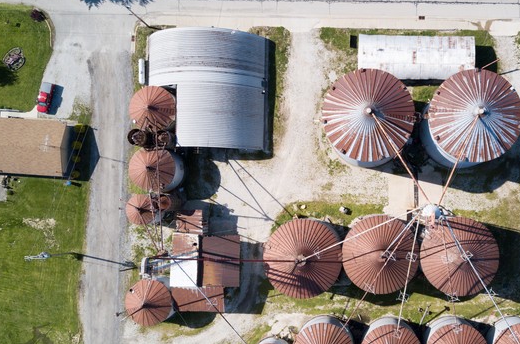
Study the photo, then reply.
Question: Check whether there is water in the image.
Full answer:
No, the scene doesn't show any water.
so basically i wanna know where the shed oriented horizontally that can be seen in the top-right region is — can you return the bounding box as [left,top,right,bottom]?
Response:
[353,32,478,81]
